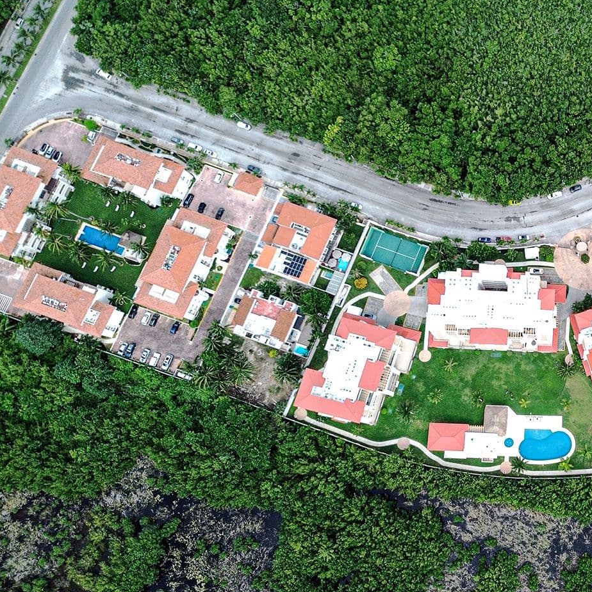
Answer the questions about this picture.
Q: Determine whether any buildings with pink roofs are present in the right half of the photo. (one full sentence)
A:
Yes, in the right half of the photo there is a building with a pink roof.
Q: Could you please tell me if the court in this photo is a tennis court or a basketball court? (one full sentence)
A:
It looks like the court is a tennis court.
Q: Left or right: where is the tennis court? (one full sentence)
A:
The tennis court appears in the right half of the scene.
